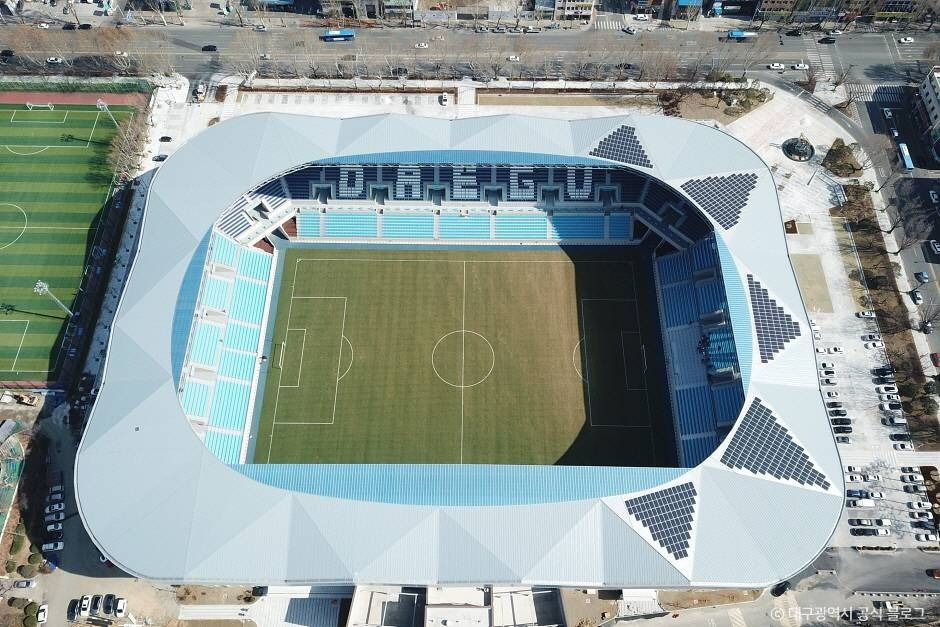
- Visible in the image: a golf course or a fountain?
fountain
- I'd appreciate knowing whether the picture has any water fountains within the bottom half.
No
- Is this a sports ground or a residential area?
sports ground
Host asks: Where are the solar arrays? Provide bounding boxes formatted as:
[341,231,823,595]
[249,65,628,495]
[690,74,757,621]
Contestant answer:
[684,175,757,226]
[627,479,700,557]
[725,397,827,494]
[749,277,800,356]
[592,127,654,161]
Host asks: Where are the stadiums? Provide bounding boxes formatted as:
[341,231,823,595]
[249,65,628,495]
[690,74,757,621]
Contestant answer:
[74,112,845,588]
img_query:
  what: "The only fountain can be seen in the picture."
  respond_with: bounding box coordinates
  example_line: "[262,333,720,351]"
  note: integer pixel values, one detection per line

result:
[780,136,816,163]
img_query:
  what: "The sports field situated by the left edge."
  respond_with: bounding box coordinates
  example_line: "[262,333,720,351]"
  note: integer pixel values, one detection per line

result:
[0,95,146,386]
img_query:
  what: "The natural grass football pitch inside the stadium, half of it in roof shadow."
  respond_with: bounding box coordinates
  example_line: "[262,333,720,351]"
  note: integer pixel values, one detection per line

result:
[255,249,669,468]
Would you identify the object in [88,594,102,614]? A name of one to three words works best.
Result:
vehicle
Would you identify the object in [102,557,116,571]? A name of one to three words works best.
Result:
vehicle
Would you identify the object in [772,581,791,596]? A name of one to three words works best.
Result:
car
